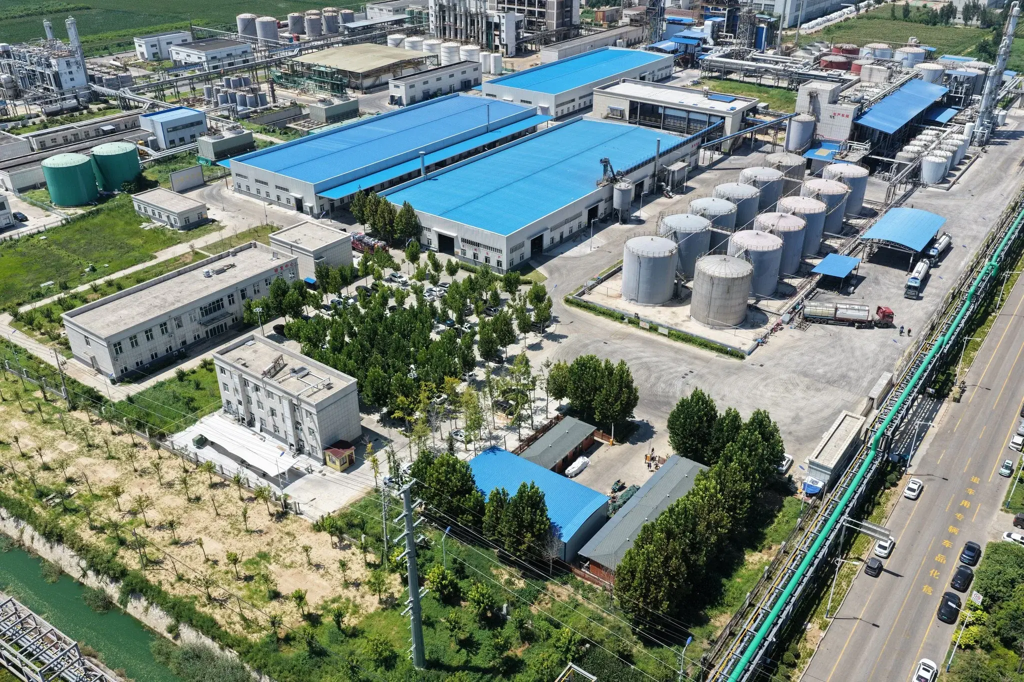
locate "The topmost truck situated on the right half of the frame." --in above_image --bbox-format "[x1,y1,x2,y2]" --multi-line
[923,227,952,271]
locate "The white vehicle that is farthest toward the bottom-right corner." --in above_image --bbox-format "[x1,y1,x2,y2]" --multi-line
[913,661,937,682]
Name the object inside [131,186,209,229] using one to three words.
building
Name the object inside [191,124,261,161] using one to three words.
cooling tower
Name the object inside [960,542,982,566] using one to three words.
car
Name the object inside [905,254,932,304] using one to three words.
truck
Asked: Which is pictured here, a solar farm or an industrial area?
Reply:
industrial area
